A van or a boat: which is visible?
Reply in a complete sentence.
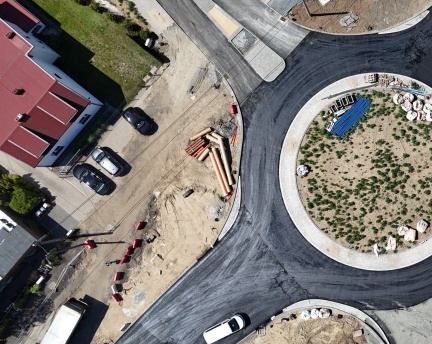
I can see a van in this picture.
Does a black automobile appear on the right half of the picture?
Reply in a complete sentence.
No, the scene shows no black automobile on the right half of the picture.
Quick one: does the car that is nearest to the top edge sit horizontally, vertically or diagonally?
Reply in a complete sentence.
From this overhead view, the car that is nearest to the top edge appears to run diagonally.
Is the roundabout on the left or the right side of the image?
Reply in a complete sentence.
You can find the roundabout on the right side of the picture.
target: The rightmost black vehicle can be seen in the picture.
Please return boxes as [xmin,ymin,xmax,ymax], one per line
[125,106,157,136]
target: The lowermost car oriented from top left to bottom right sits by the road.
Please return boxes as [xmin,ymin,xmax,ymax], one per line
[77,163,112,194]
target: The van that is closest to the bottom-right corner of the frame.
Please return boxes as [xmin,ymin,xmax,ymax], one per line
[202,314,245,343]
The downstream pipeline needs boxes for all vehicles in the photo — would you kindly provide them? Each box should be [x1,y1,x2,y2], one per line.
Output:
[91,147,126,176]
[125,106,157,136]
[77,163,112,194]
[202,314,245,343]
[41,299,92,344]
